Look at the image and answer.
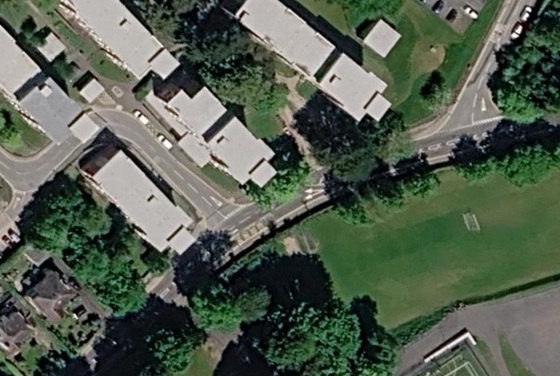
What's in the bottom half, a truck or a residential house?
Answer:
residential house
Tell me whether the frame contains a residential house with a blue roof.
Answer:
No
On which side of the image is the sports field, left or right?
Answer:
right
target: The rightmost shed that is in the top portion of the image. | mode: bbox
[364,19,401,58]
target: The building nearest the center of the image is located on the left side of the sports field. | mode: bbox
[208,117,277,188]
